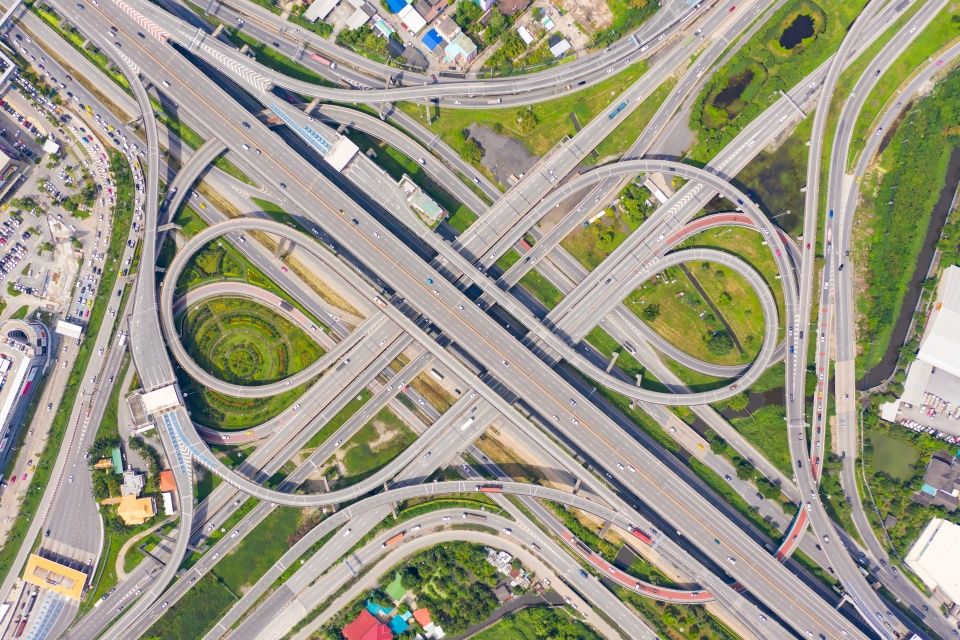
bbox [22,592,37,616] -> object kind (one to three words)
vehicle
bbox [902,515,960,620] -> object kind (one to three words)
building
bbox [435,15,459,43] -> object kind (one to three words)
house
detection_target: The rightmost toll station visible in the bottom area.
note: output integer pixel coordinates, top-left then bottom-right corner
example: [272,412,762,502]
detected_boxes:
[141,379,184,418]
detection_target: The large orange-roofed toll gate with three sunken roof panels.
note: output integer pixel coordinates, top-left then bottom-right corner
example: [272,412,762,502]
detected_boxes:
[23,544,95,603]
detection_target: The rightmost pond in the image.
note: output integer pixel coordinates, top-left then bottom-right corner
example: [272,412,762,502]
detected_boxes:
[869,435,919,479]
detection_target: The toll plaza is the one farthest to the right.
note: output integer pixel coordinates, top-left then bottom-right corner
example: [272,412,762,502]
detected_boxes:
[323,132,366,176]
